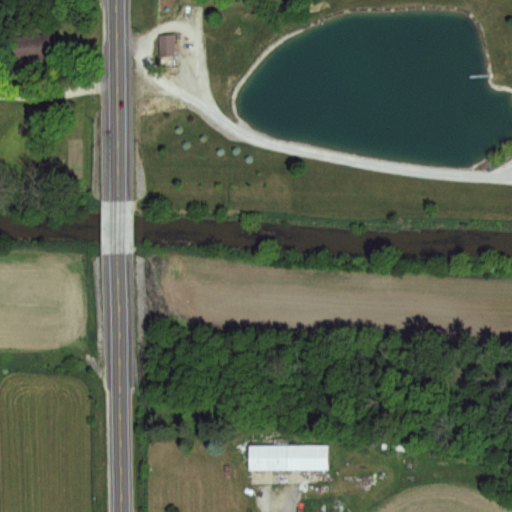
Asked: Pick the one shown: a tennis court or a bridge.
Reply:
bridge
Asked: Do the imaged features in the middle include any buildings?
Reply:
No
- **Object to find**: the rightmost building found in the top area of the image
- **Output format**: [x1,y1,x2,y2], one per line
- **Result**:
[159,34,177,66]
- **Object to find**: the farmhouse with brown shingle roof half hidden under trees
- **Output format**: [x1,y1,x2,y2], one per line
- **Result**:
[14,36,48,60]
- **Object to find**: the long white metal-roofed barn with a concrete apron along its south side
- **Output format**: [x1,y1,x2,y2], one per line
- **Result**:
[249,444,329,472]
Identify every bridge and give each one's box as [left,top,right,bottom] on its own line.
[102,202,134,254]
